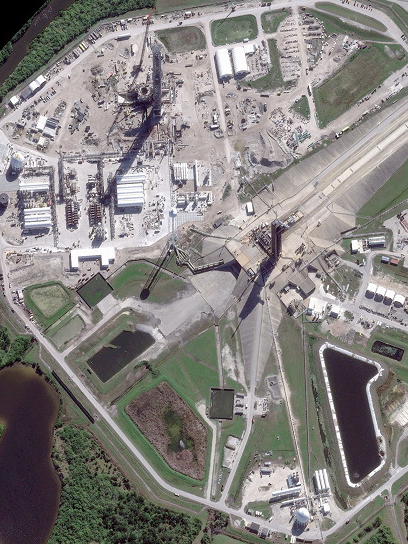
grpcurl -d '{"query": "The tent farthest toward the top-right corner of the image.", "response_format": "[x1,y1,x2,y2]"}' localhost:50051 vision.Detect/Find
[232,49,250,78]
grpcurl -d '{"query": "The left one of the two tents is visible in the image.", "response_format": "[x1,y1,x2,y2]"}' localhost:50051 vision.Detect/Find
[216,51,233,81]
